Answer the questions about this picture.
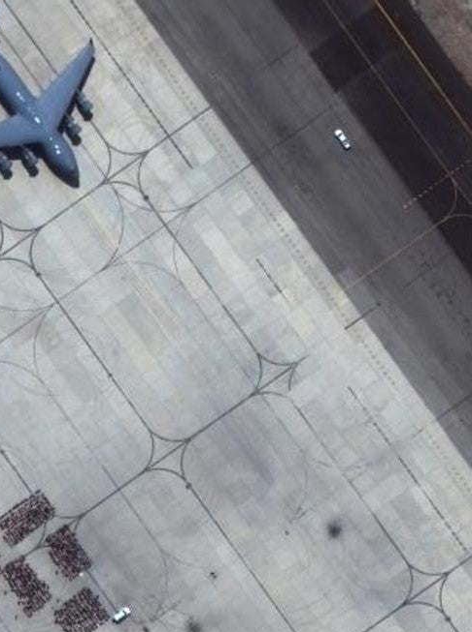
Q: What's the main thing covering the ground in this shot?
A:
paved ground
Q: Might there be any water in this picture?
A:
No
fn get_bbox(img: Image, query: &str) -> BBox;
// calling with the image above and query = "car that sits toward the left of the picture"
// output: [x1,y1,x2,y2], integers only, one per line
[111,607,130,621]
